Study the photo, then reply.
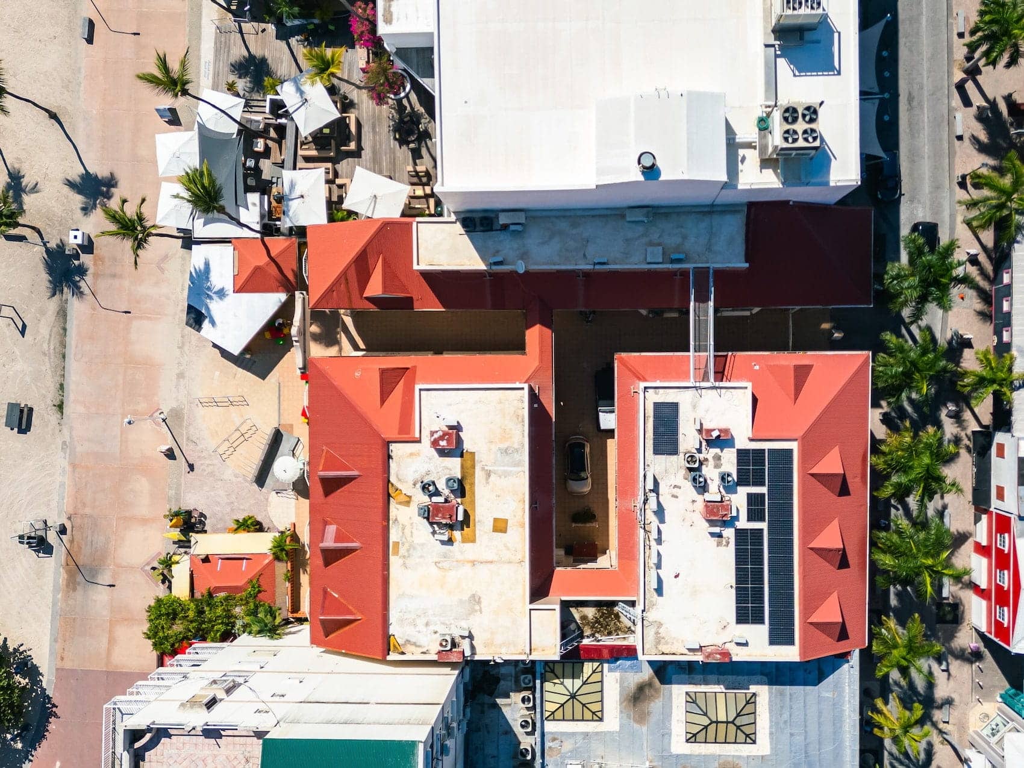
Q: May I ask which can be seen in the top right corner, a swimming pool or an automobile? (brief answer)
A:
automobile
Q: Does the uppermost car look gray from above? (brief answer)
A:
No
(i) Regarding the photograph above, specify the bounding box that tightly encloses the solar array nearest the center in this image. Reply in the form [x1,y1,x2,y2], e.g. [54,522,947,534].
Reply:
[653,402,679,455]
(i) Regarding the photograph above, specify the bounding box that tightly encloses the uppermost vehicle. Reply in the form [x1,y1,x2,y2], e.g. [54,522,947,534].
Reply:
[872,149,902,206]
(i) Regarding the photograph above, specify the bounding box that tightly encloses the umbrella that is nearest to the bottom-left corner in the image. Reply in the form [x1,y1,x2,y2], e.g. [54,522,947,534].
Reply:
[275,456,302,482]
